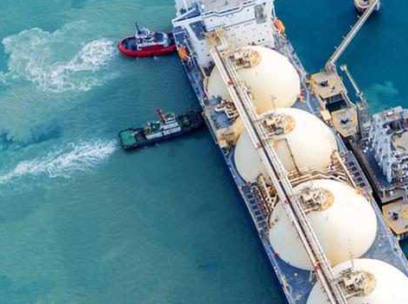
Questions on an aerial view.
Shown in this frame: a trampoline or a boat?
boat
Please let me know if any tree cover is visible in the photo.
No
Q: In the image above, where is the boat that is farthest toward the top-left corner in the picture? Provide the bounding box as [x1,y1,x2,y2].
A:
[111,21,175,58]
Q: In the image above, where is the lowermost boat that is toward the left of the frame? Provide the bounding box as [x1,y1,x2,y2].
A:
[115,104,199,154]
